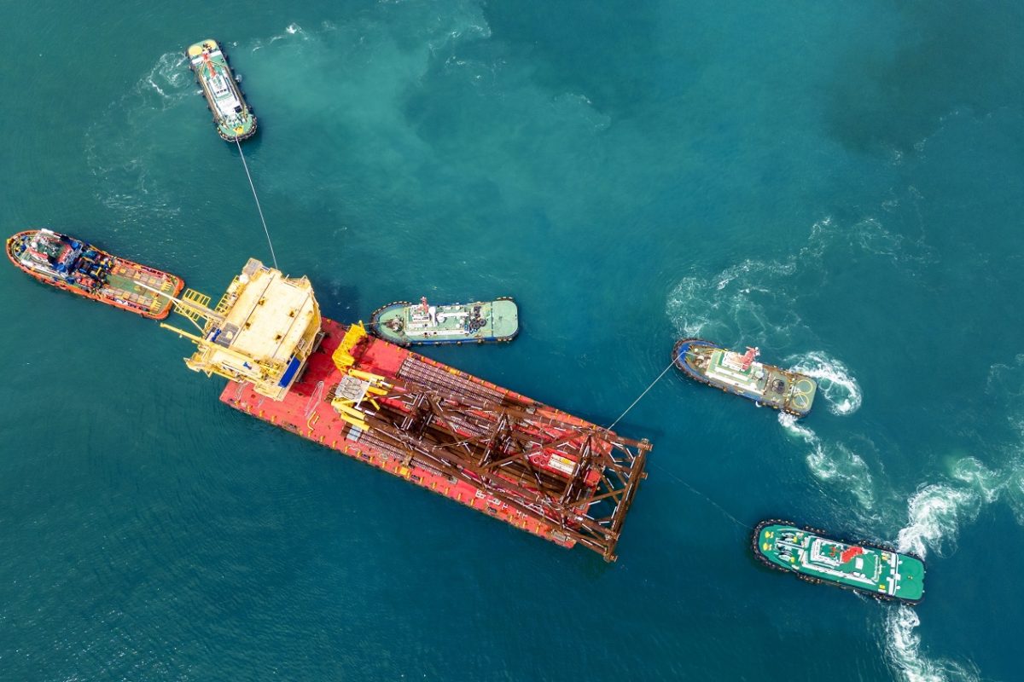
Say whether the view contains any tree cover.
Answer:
No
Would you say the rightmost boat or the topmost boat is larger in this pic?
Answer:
the rightmost boat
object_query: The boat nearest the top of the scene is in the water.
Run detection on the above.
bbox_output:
[189,35,256,143]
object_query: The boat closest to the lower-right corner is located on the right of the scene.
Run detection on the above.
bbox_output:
[750,520,926,606]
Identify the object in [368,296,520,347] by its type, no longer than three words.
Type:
boat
